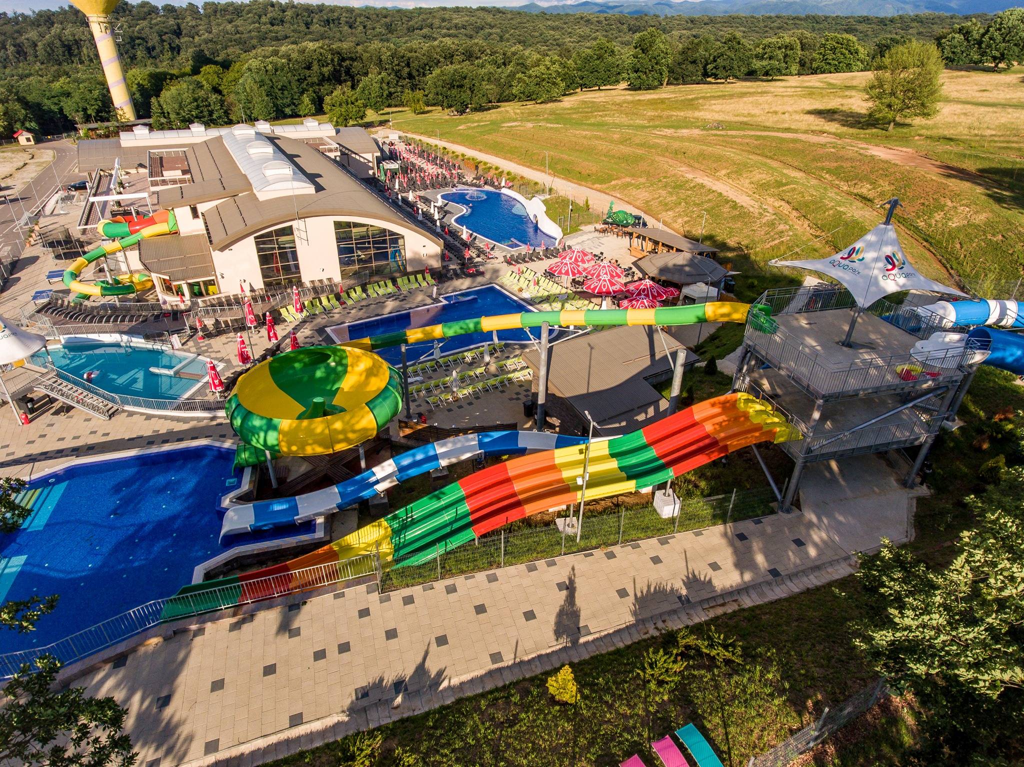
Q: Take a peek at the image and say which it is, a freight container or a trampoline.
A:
trampoline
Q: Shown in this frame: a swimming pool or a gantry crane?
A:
swimming pool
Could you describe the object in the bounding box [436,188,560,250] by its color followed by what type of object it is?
blue swimming pool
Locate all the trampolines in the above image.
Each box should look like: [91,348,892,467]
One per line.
[30,221,79,251]
[41,232,90,265]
